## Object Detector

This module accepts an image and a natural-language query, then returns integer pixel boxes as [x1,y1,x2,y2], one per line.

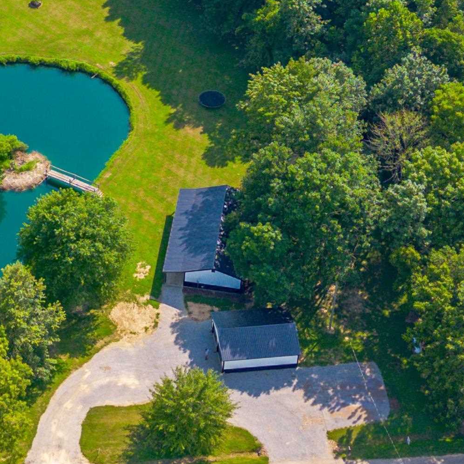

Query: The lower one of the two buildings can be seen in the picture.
[211,308,304,373]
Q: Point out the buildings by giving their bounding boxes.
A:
[161,183,253,294]
[211,308,304,373]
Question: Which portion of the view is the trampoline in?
top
